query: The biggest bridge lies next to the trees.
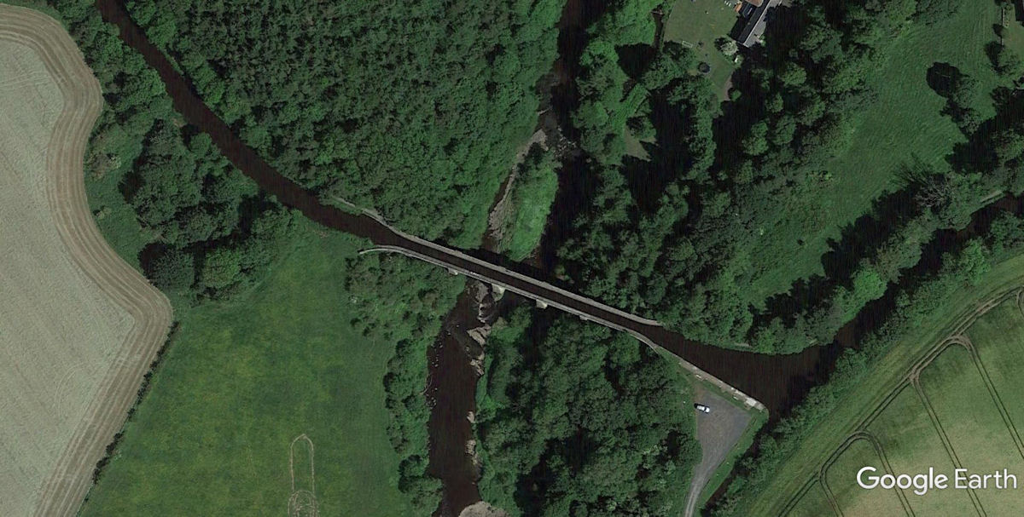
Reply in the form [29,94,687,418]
[360,210,663,356]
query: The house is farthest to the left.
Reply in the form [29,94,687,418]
[738,0,779,48]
